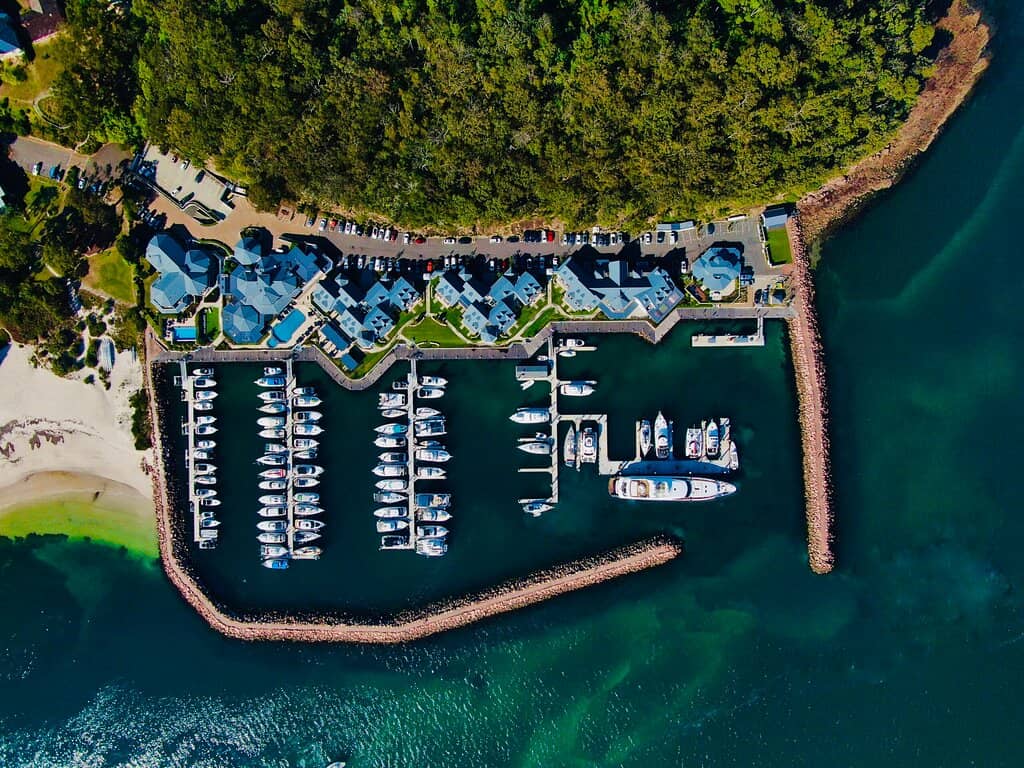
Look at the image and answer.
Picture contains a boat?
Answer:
Yes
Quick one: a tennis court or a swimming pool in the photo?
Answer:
swimming pool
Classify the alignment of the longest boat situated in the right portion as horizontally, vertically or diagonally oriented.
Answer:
horizontally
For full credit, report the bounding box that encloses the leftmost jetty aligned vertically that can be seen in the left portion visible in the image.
[175,360,215,542]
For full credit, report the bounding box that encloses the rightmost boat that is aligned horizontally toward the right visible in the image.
[607,474,737,501]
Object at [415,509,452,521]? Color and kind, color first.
white boat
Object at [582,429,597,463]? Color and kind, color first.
white boat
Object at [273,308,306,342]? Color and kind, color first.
blue swimming pool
